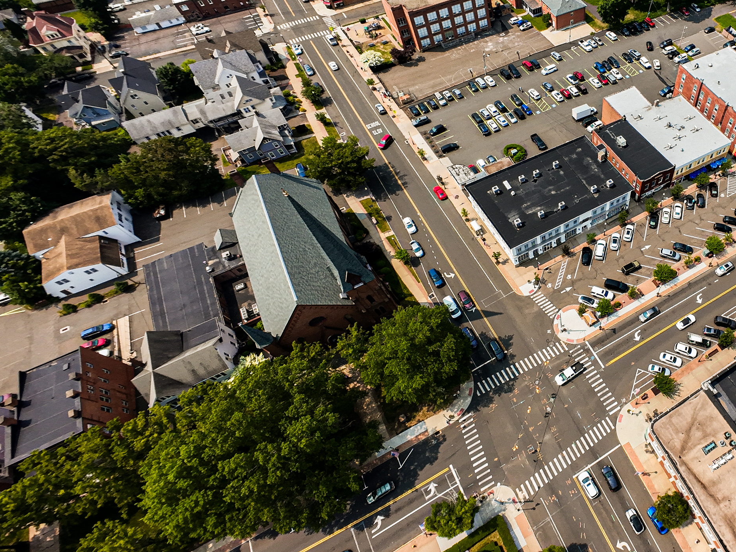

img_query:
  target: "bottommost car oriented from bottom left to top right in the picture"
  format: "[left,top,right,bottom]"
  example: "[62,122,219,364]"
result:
[364,479,396,507]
